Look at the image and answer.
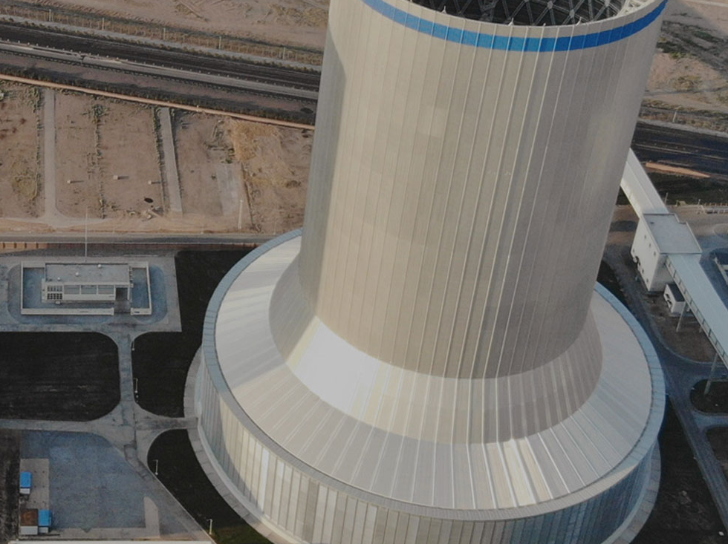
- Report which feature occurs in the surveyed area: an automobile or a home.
home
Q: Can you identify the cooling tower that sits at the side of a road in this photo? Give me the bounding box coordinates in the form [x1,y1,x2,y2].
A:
[195,0,668,544]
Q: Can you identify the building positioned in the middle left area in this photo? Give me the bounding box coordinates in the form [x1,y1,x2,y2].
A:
[39,260,133,301]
